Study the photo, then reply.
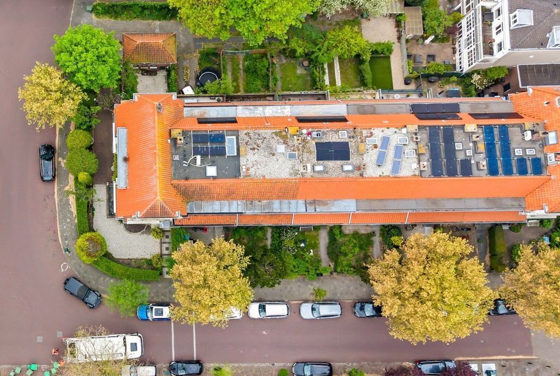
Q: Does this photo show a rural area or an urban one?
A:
urban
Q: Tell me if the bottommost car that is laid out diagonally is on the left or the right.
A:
left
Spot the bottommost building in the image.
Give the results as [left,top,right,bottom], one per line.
[115,89,560,231]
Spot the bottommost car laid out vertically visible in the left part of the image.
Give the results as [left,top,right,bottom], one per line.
[37,145,56,183]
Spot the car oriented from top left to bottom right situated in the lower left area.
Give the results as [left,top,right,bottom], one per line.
[63,274,104,312]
